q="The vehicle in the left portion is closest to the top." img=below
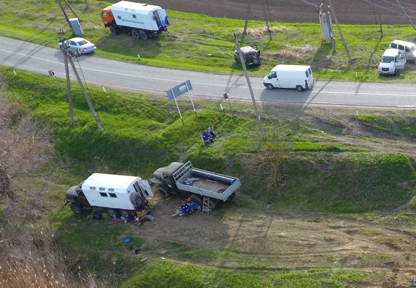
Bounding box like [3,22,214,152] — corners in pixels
[92,1,171,41]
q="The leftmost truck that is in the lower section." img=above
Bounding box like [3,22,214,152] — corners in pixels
[63,170,154,219]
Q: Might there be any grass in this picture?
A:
Yes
